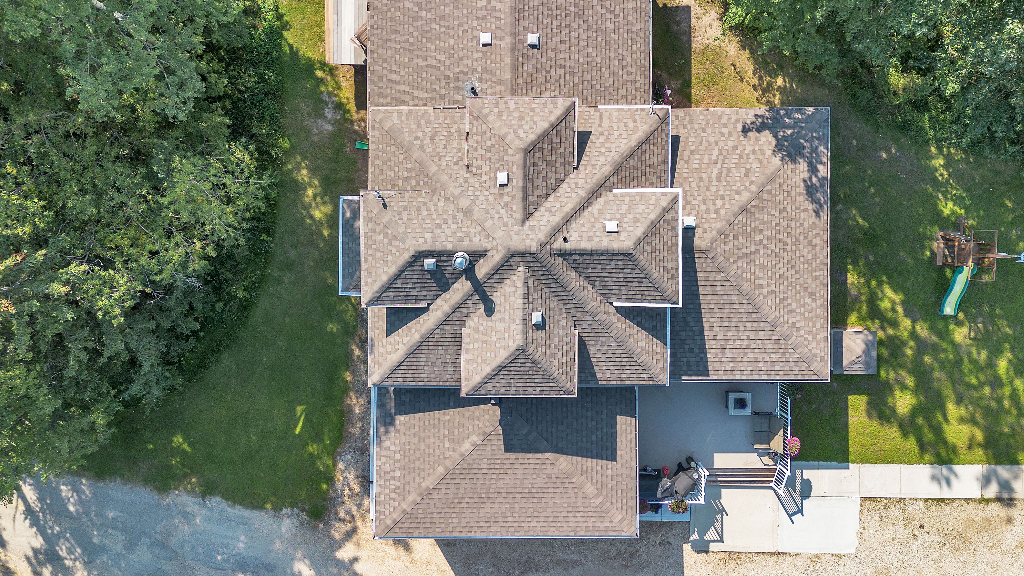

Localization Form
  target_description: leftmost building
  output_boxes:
[340,0,830,539]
